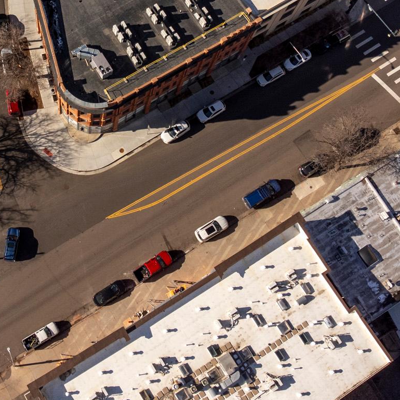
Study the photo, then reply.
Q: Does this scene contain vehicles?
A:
Yes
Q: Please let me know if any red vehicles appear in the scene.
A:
Yes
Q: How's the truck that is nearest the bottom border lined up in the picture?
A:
on a diagonal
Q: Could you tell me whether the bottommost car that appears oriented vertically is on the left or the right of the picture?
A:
left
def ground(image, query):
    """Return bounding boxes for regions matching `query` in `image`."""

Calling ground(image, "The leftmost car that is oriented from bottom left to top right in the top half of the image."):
[159,117,193,146]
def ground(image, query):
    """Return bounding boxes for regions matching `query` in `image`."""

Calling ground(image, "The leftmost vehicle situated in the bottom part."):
[2,224,22,266]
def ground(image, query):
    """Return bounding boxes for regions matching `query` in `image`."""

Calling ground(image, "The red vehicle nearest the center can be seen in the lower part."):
[131,248,175,286]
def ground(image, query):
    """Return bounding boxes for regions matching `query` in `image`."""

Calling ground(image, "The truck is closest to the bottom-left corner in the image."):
[17,318,63,357]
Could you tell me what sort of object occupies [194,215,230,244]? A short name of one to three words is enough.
car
